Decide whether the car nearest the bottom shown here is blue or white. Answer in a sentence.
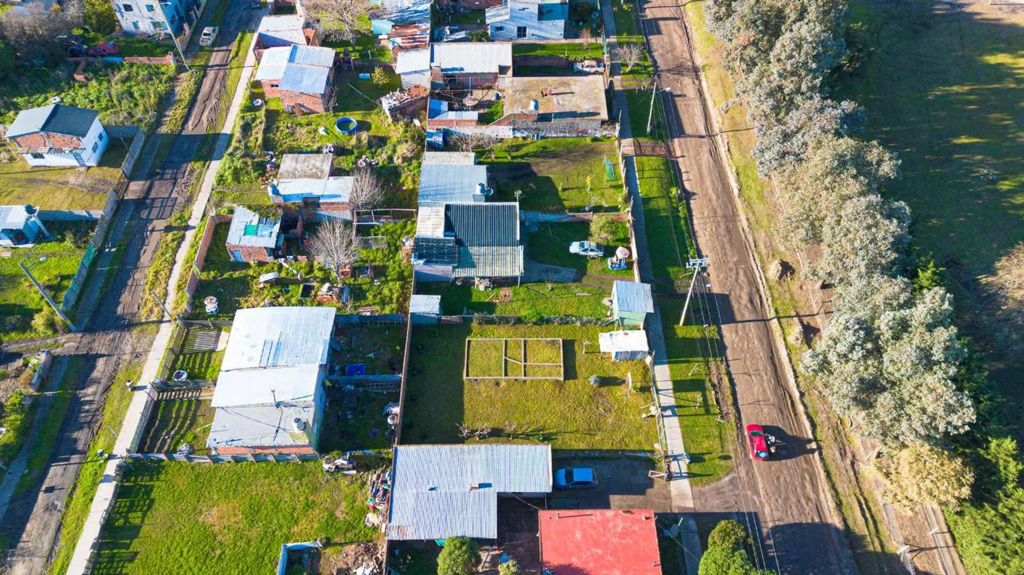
The car nearest the bottom is blue.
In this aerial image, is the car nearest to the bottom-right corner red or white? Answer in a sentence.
The color of the car nearest to the bottom-right corner is red.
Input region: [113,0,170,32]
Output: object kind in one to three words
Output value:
building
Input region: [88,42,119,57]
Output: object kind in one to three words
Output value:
car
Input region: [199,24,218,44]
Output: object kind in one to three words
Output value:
vehicle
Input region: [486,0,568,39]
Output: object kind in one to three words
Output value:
house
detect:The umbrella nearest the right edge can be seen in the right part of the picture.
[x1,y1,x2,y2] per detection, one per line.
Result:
[616,244,632,256]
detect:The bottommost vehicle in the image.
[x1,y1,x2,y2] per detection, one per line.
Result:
[555,467,598,490]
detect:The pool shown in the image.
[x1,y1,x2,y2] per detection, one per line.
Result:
[335,117,357,135]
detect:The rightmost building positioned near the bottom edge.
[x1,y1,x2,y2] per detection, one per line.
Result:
[538,508,664,575]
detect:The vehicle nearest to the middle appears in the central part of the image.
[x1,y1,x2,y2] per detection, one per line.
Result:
[569,240,605,258]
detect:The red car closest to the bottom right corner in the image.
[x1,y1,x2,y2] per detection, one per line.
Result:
[745,424,771,464]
